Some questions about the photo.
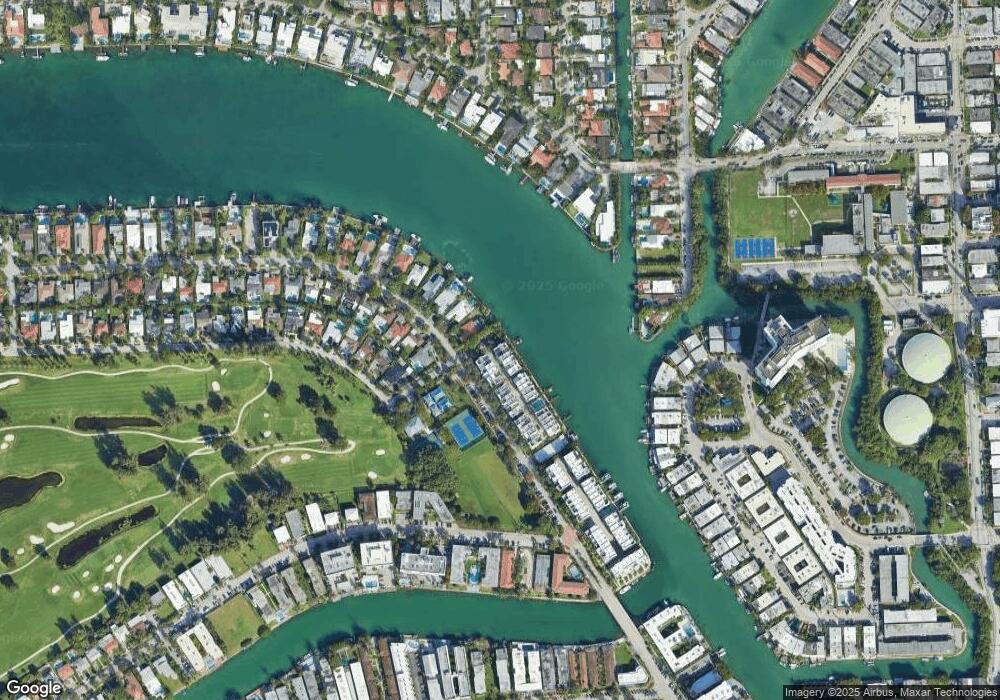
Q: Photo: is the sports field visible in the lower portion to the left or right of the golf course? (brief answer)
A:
to the right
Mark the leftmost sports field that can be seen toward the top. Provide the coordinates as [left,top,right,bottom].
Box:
[730,167,812,251]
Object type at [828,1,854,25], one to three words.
building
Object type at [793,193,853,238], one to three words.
sports field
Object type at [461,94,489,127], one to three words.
house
